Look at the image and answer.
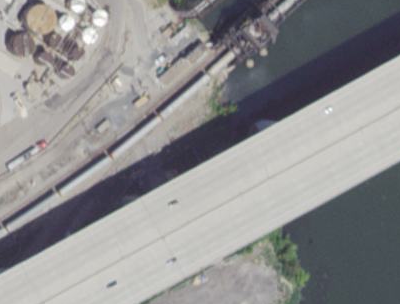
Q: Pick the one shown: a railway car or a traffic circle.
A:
railway car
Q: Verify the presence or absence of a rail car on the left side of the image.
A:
Yes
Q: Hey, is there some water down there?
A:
Yes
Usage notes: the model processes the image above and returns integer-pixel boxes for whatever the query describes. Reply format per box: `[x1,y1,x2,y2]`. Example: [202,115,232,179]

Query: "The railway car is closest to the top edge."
[274,0,298,17]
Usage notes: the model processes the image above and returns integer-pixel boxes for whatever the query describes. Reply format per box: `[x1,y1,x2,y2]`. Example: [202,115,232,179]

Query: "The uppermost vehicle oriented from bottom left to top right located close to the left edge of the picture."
[6,144,46,170]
